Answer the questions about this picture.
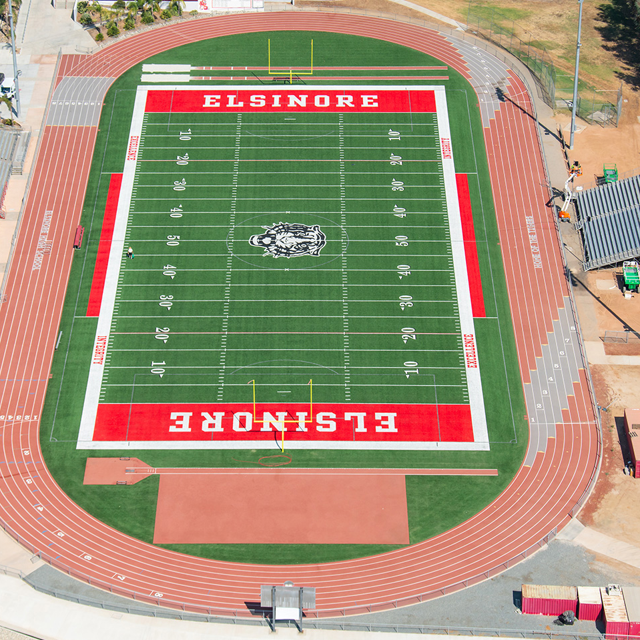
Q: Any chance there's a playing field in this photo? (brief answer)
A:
Yes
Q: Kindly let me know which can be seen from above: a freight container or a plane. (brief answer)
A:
freight container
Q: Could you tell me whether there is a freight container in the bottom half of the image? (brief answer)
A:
Yes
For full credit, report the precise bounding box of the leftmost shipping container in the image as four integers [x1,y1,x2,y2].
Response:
[522,585,579,617]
